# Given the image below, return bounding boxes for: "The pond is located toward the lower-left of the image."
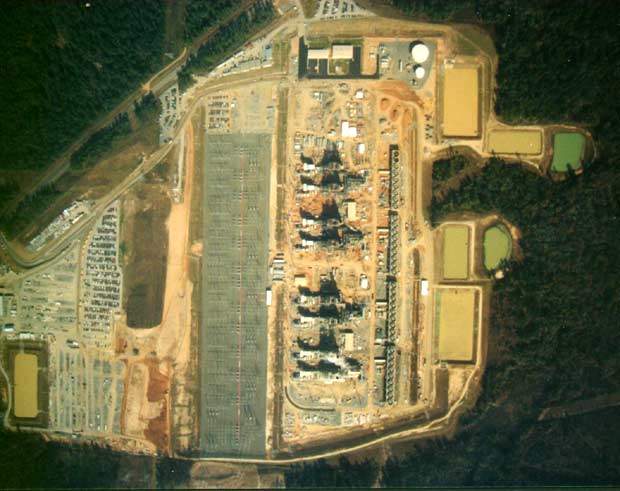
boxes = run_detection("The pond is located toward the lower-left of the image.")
[7,346,45,425]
